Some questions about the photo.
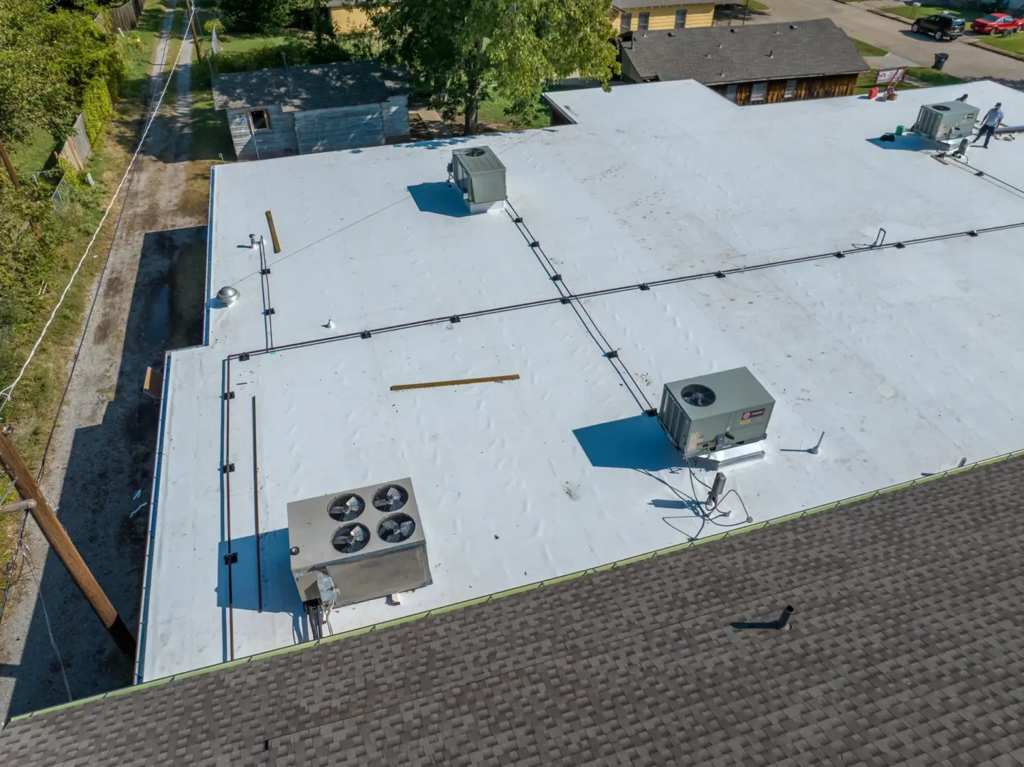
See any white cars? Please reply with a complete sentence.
No, there isn't any white car down there.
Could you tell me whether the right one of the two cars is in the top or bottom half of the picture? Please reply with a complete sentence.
The top half of the photo is where the right one of the two cars is.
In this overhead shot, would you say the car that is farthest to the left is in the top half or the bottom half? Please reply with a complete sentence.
The car that is farthest to the left is in the top half of the image.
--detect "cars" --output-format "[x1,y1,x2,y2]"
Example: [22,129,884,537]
[972,11,1024,35]
[908,8,971,40]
